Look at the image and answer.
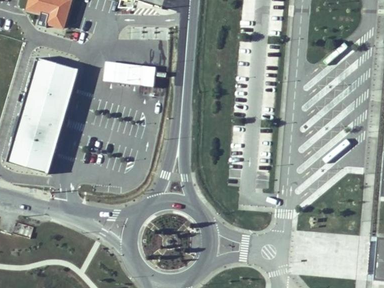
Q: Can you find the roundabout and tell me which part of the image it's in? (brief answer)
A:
bottom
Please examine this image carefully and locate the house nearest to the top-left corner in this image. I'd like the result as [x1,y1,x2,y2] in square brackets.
[26,0,72,29]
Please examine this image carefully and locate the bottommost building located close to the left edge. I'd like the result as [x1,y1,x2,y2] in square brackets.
[8,58,78,174]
